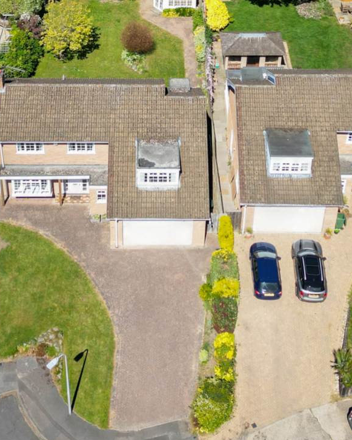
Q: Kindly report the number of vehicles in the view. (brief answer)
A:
two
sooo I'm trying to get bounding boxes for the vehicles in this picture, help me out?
[246,243,283,300]
[290,239,329,300]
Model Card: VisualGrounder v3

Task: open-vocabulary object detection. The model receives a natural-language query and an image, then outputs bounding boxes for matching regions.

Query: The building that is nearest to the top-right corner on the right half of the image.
[219,26,297,77]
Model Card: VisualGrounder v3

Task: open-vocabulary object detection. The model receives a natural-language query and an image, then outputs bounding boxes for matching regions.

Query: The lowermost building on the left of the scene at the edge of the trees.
[0,60,211,246]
